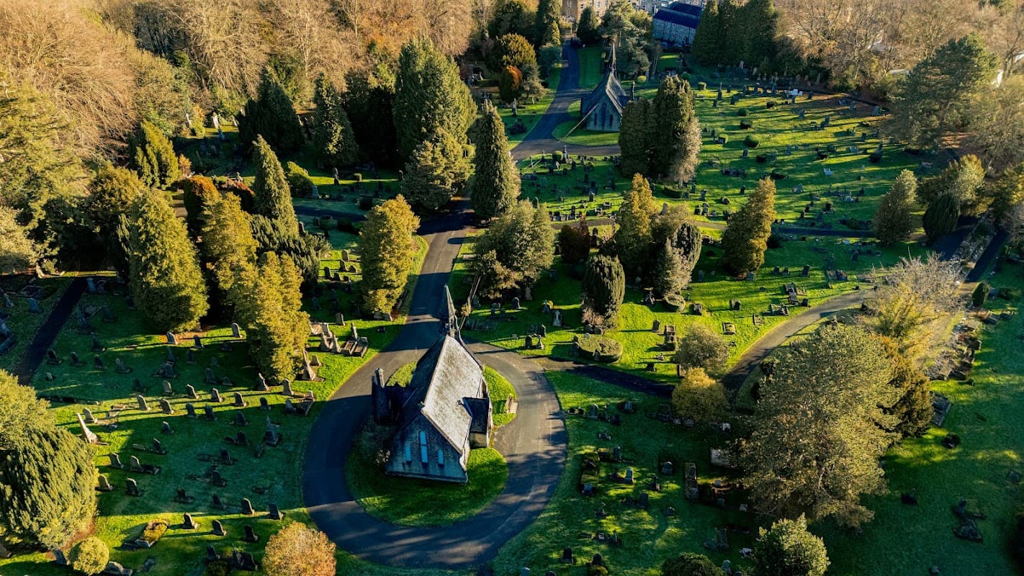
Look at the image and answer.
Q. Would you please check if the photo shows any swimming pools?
No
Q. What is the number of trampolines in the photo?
zero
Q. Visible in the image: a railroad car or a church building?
church building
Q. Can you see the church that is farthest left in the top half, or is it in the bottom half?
bottom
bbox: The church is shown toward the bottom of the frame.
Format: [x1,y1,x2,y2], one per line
[365,277,499,485]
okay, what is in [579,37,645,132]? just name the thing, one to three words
building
